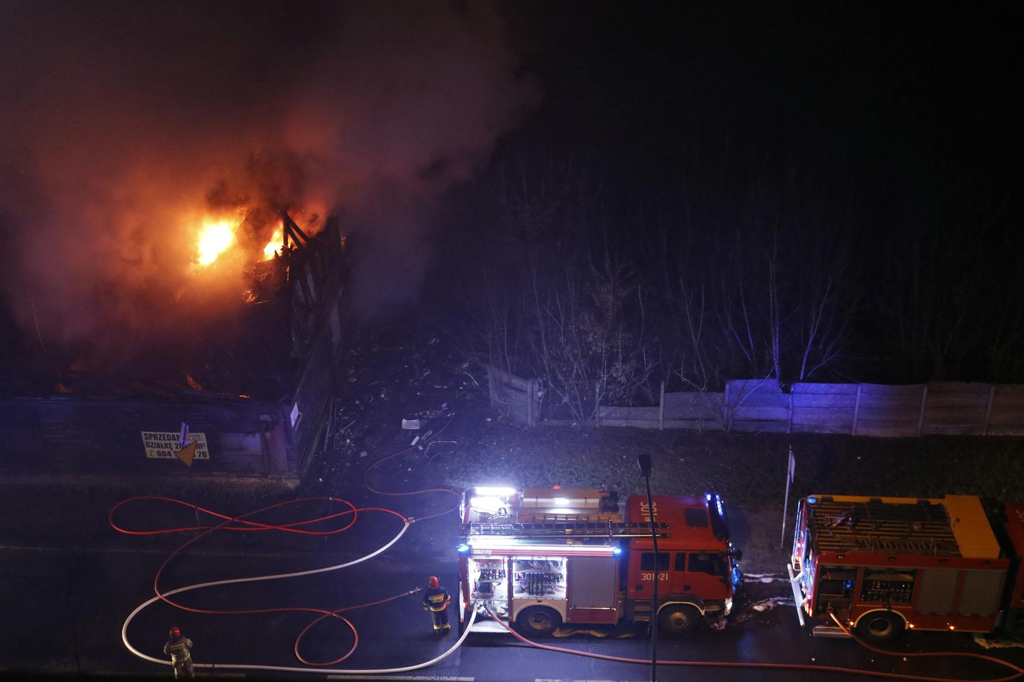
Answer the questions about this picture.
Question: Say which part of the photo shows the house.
left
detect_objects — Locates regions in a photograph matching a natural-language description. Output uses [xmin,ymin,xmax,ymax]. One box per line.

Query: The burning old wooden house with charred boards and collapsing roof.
[0,196,350,480]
